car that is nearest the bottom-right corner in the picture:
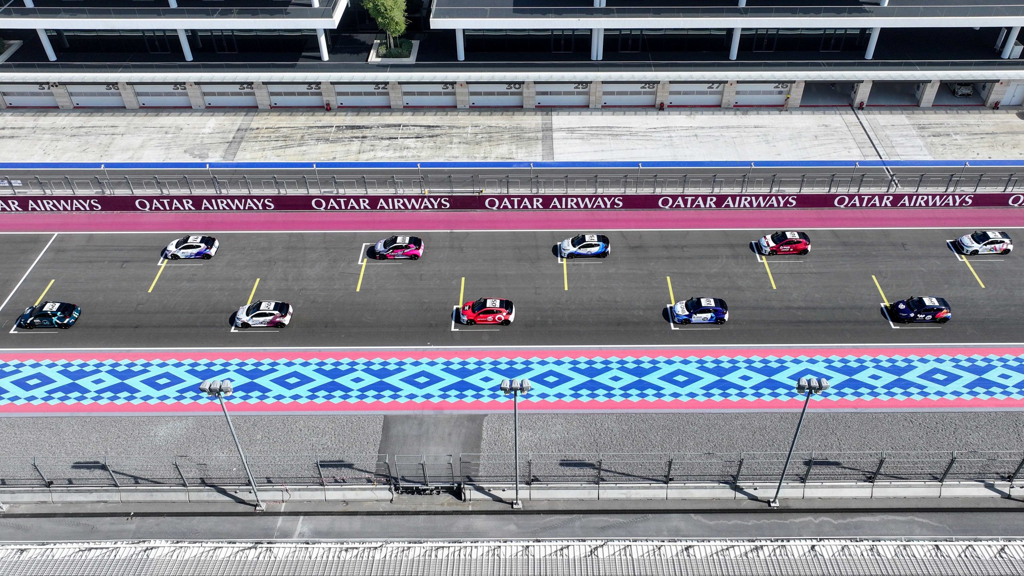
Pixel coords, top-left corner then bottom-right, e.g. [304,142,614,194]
[891,295,953,324]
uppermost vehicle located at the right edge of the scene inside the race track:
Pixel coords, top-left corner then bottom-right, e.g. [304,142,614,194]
[958,230,1015,255]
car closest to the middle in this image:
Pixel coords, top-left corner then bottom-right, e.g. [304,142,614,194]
[459,297,514,326]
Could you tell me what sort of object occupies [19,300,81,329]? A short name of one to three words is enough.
car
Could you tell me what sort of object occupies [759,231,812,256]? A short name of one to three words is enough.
car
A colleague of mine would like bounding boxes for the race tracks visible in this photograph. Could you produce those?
[0,229,1024,350]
